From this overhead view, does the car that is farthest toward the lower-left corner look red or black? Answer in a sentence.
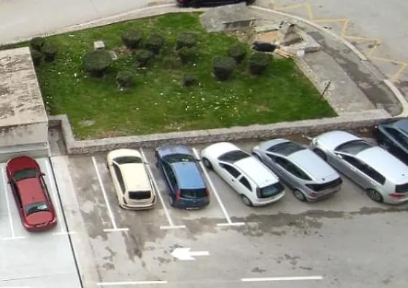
The color of the car that is farthest toward the lower-left corner is red.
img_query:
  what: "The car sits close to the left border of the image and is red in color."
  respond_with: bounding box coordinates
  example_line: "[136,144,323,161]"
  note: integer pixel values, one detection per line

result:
[7,157,57,231]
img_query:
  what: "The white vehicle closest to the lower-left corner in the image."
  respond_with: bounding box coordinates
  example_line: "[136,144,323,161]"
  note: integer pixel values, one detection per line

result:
[106,149,156,211]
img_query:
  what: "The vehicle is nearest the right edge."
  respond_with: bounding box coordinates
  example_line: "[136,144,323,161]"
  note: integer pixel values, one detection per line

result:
[370,121,408,175]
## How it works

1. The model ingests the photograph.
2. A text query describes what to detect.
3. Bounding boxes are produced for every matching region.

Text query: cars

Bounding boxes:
[106,149,156,211]
[7,157,57,231]
[155,146,210,209]
[370,121,408,175]
[255,137,350,207]
[207,143,286,208]
[316,133,408,206]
